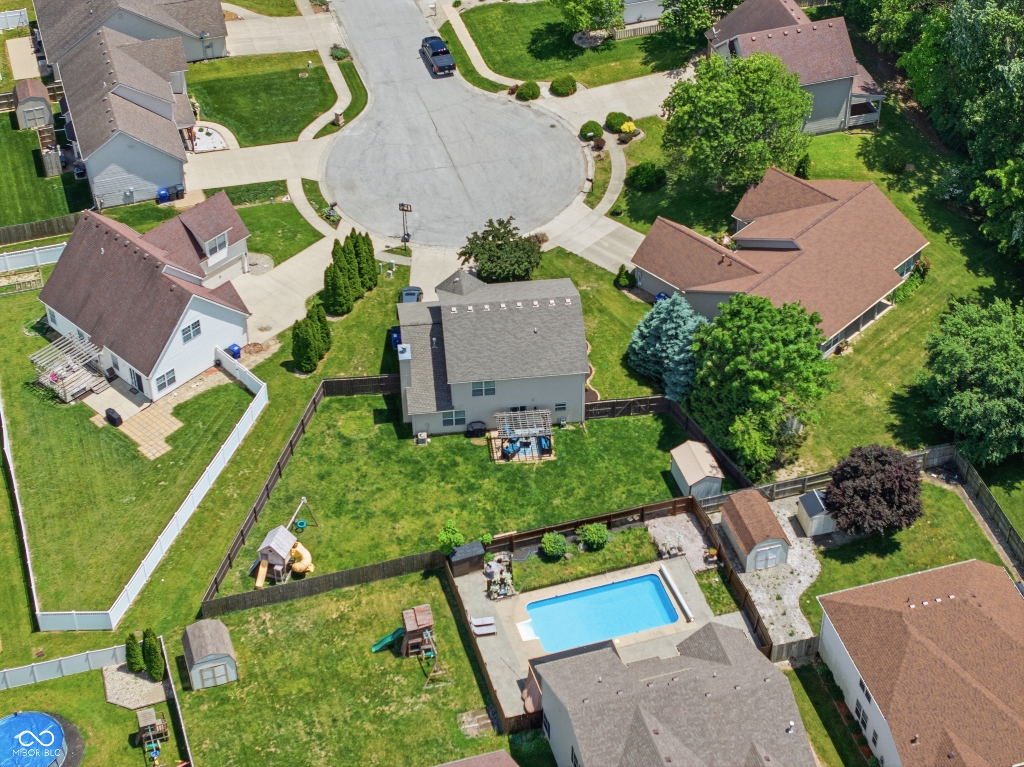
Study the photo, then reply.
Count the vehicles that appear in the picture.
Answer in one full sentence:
The number of vehicles here is 2.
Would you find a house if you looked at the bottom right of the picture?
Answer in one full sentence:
Yes, a house can be seen at the bottom right of the picture.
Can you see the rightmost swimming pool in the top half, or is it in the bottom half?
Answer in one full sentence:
You can find the rightmost swimming pool in the bottom half.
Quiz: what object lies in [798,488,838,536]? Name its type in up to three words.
shed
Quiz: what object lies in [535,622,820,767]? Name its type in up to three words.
house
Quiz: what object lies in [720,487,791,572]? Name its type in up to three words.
shed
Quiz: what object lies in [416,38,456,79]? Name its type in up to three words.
truck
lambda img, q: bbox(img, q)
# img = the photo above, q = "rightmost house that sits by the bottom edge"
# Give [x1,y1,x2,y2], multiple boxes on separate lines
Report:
[816,559,1024,767]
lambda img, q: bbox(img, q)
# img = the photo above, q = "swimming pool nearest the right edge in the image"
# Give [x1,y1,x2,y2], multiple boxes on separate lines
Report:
[516,573,679,653]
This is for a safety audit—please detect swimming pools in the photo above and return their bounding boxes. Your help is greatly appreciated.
[516,573,679,653]
[0,720,70,767]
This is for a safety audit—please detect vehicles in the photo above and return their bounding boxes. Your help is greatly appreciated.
[396,285,424,325]
[416,38,456,79]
